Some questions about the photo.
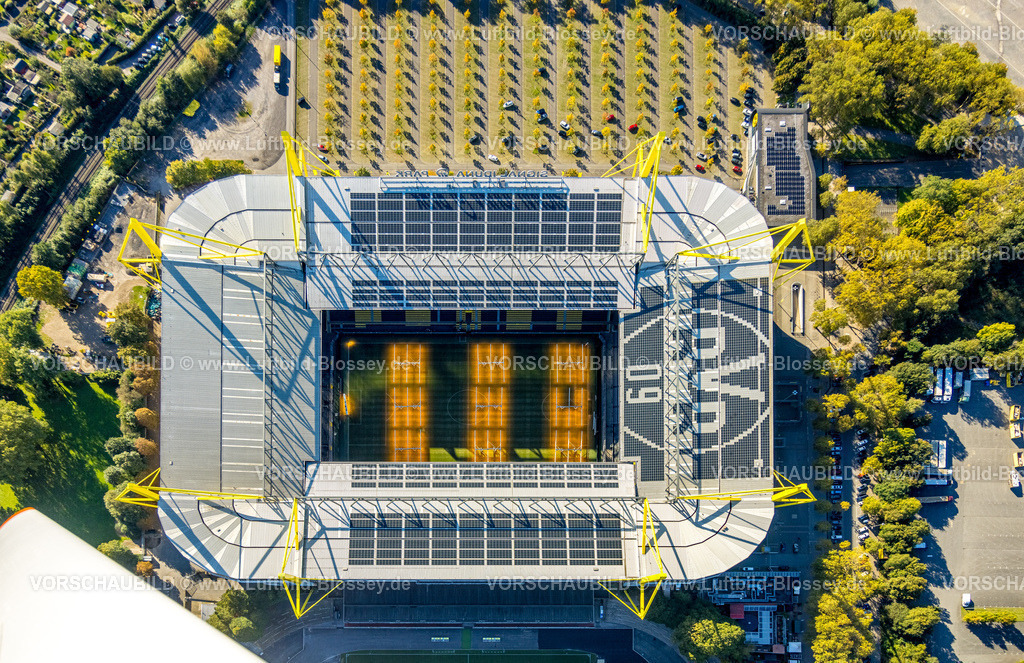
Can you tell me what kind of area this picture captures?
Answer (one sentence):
What you see here is a sports ground.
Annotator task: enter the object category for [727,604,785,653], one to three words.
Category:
building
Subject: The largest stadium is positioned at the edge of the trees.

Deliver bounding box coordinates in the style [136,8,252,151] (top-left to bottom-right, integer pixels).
[115,130,818,618]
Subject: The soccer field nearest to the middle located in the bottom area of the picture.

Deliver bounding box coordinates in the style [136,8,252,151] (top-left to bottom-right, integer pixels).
[343,338,593,462]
